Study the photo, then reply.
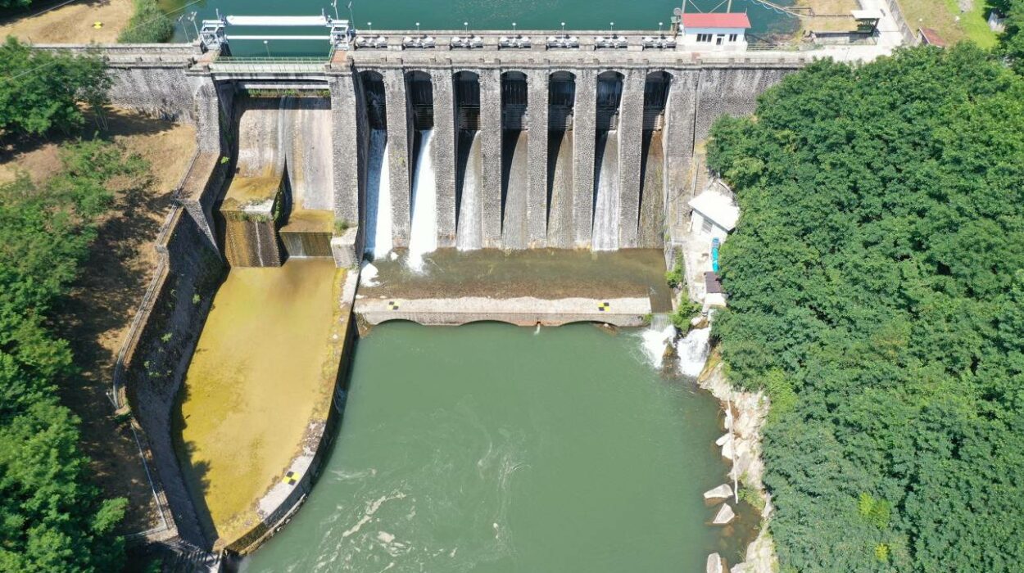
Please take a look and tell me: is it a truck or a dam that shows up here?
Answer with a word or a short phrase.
dam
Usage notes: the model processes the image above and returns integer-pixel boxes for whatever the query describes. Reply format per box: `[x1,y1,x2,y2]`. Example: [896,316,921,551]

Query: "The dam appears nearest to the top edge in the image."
[0,30,1024,264]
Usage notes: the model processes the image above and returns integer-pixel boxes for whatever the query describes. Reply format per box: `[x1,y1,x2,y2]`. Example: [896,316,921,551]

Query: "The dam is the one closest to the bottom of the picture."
[354,295,652,326]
